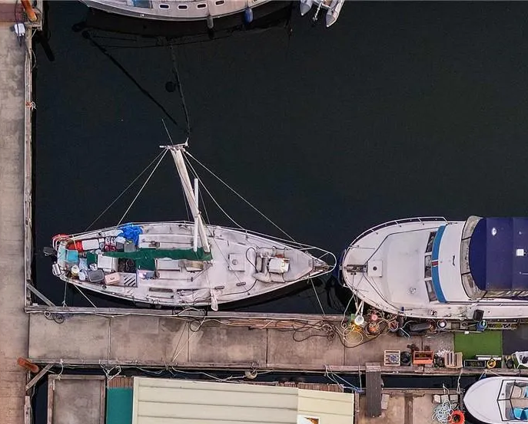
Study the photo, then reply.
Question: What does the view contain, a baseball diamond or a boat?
boat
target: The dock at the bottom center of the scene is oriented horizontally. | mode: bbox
[32,286,528,390]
